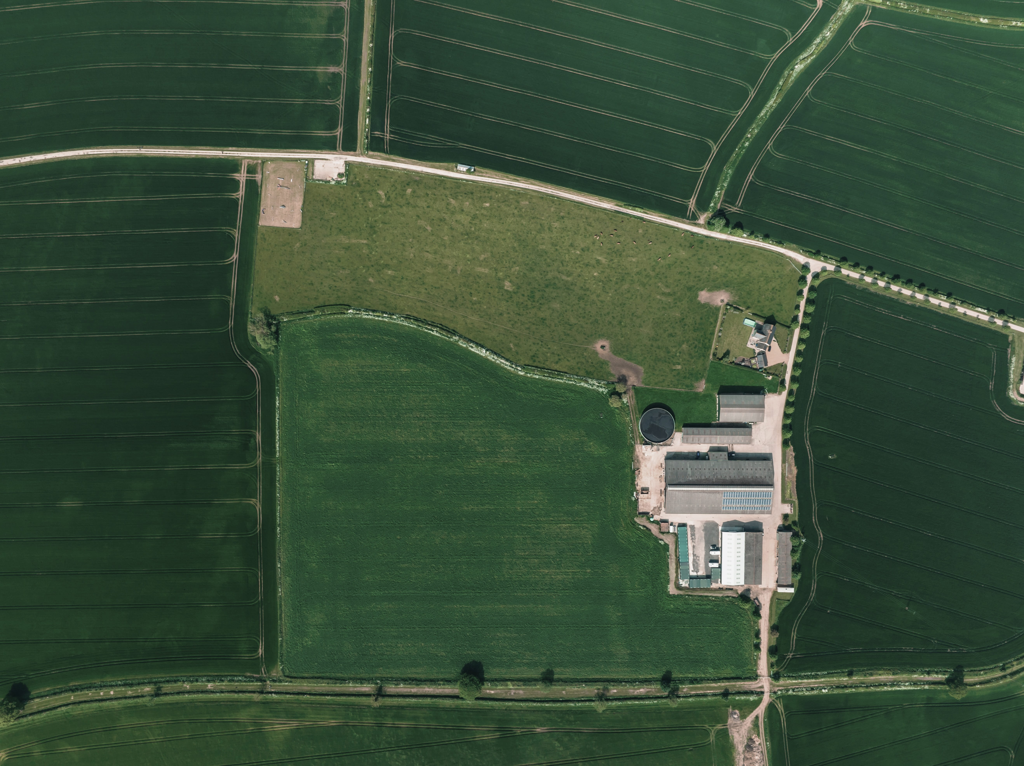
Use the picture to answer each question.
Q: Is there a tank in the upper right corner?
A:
No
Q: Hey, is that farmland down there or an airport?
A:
farmland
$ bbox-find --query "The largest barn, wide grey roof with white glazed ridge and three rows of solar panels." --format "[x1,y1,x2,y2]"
[665,460,775,514]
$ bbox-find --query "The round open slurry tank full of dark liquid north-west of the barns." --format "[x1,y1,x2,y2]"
[639,408,675,445]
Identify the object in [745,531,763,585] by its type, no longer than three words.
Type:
barn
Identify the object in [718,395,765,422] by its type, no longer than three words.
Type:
barn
